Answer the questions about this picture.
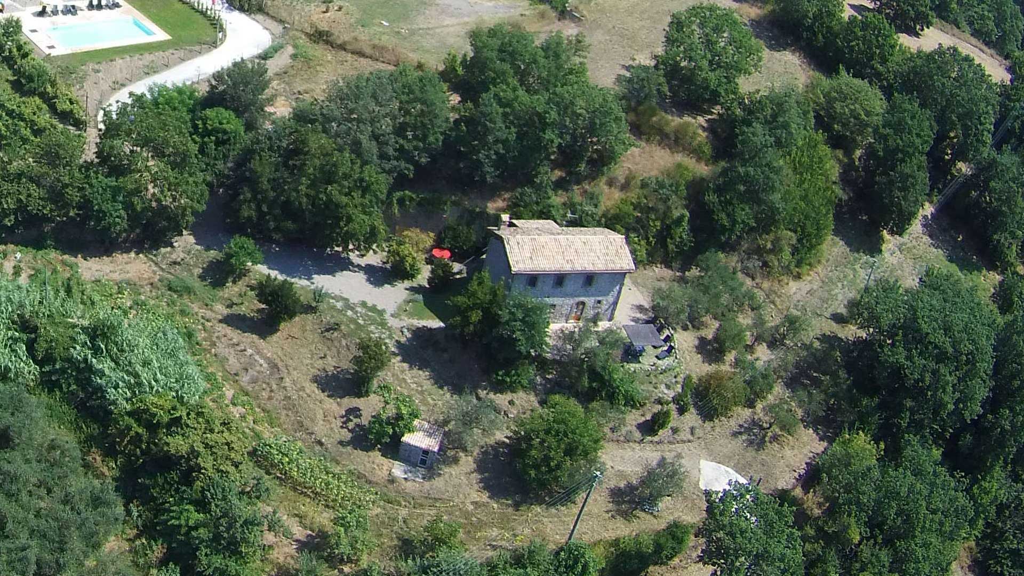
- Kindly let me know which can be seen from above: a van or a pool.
pool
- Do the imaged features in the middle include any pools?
No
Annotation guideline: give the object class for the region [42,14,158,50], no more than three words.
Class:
swimming pool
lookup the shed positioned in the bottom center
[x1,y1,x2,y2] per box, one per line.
[402,416,447,470]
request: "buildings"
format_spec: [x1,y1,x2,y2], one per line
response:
[488,211,634,325]
[402,416,447,470]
